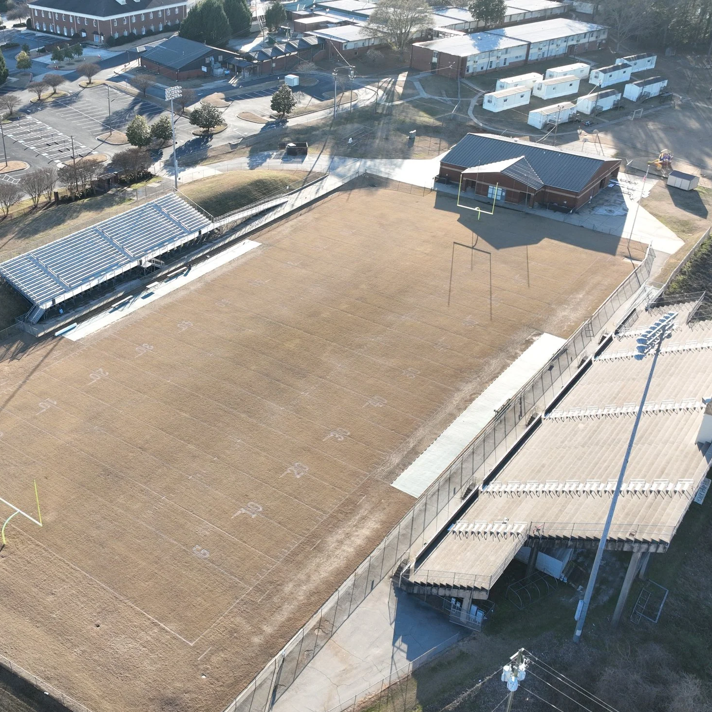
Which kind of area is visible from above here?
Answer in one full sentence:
What you see here is a sports ground.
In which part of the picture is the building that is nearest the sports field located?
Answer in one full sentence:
The building that is nearest the sports field is in the top right part of the image.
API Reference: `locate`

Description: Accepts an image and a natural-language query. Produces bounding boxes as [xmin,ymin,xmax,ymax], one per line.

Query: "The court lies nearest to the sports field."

[565,128,618,150]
